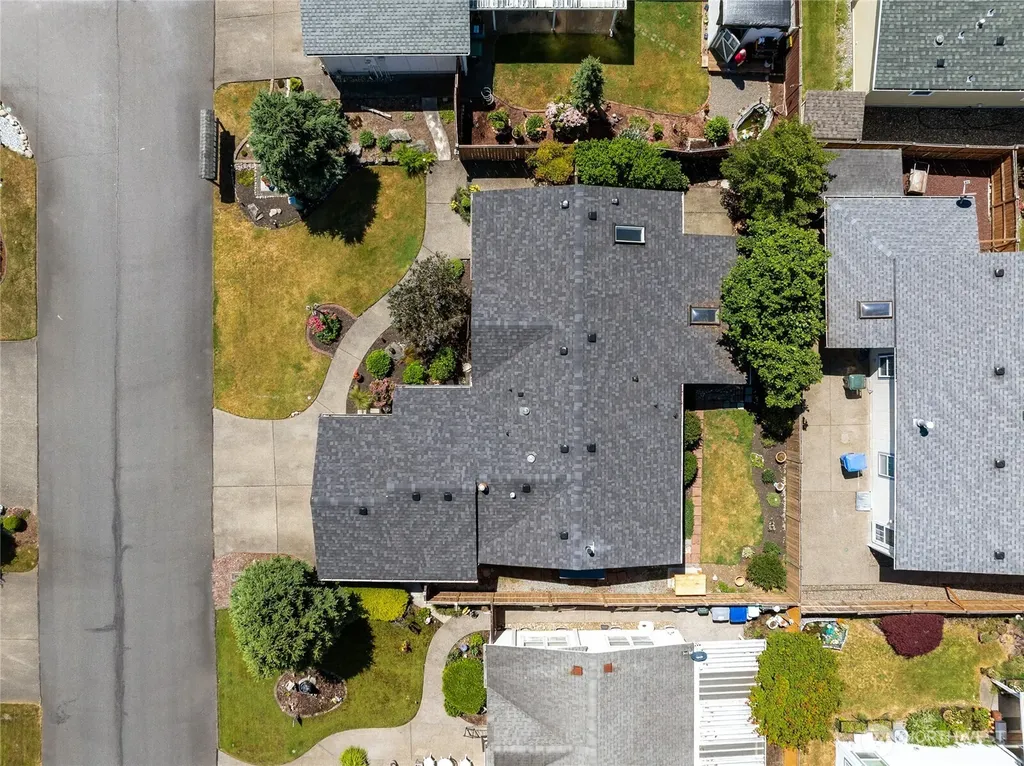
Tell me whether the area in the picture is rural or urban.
urban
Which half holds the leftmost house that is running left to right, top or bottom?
top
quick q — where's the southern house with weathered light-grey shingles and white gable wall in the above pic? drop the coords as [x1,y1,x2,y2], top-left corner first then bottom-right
[484,630,694,766]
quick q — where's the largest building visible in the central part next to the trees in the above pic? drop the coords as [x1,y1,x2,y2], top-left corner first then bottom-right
[311,184,750,584]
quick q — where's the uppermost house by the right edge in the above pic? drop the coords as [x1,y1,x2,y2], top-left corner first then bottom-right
[853,0,1024,107]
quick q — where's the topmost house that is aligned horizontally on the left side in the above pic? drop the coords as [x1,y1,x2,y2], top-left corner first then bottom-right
[300,0,470,75]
